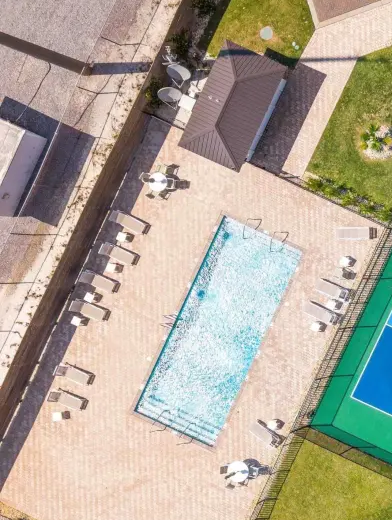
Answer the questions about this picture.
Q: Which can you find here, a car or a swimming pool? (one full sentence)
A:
It is a swimming pool that can be seen here.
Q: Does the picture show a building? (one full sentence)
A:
Yes, the frame does contain a building.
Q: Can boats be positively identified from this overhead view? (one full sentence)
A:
No, the scene contains no boat.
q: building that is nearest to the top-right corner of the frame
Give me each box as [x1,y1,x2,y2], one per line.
[178,39,298,172]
